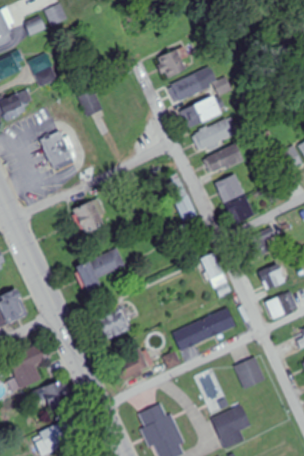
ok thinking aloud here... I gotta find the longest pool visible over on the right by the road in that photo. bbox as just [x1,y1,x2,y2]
[193,368,230,416]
